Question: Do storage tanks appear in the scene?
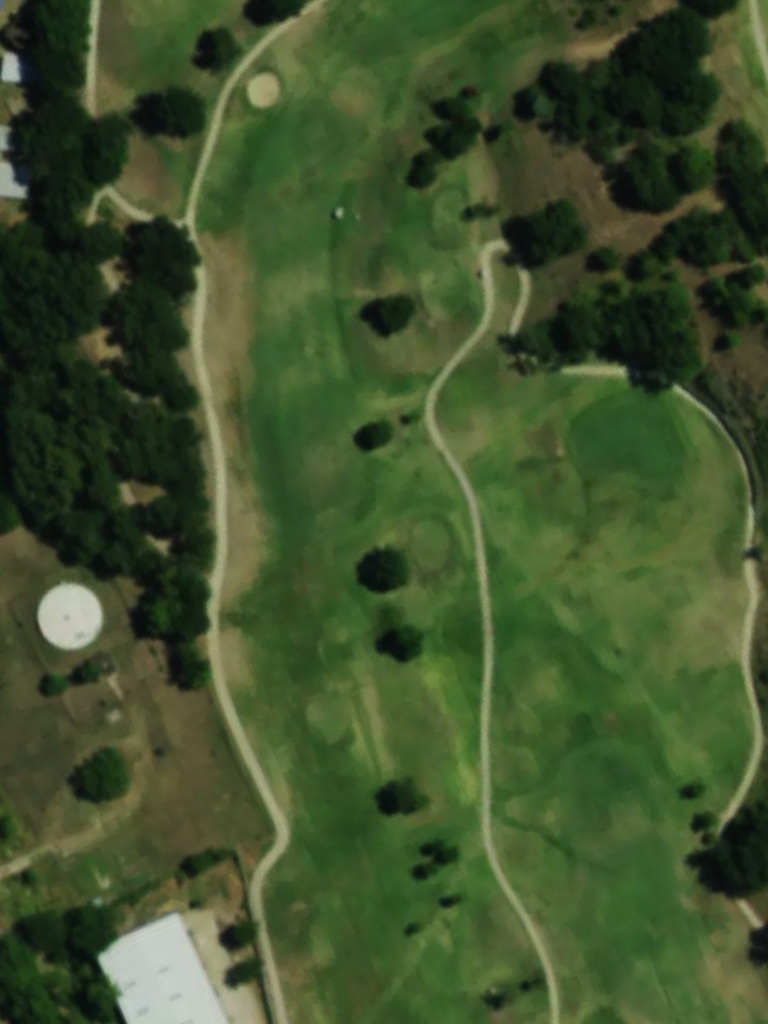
Yes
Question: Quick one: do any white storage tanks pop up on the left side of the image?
Yes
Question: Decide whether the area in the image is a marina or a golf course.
golf course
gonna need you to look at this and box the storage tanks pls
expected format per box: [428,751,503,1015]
[37,583,103,648]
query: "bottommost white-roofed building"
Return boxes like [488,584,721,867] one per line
[95,914,231,1024]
